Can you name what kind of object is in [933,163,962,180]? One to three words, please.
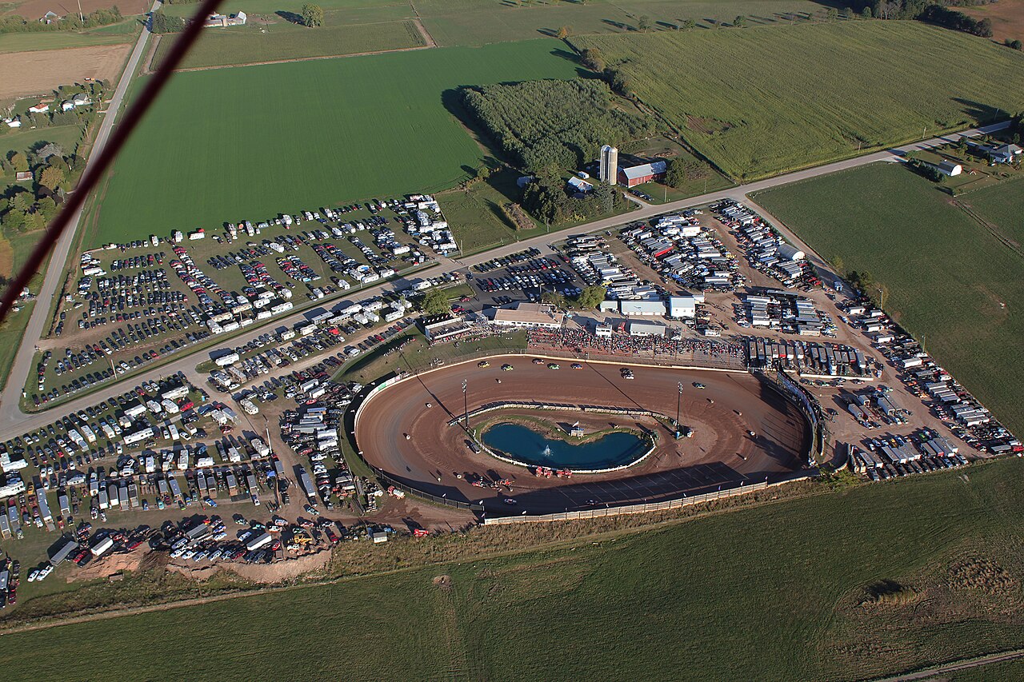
barn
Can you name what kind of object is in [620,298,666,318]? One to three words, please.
shed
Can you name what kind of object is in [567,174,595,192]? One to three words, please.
house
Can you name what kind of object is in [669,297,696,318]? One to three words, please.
building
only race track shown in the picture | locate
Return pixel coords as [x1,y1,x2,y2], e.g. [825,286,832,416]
[354,354,813,522]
